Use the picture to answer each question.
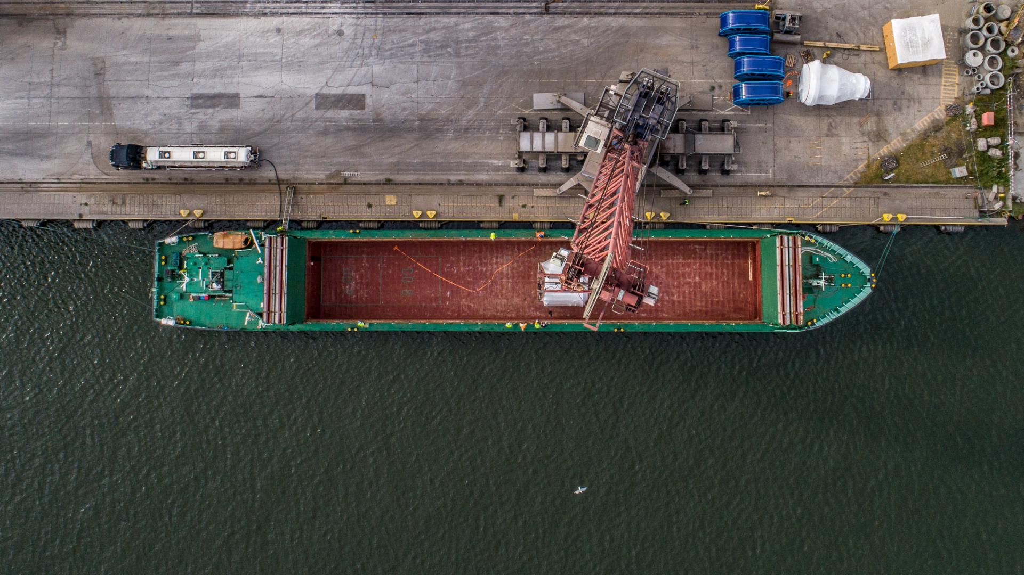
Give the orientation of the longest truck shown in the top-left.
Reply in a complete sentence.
In this picture, the longest truck shown in the top-left is oriented from side to side.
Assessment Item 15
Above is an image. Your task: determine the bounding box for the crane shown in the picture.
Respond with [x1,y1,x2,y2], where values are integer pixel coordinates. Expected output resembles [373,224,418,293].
[510,65,742,331]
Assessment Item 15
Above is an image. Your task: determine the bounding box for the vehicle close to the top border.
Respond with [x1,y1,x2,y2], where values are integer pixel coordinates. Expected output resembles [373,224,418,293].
[771,9,804,43]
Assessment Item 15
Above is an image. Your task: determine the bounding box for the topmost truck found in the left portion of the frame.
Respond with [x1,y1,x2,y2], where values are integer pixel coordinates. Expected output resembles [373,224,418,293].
[108,140,259,173]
